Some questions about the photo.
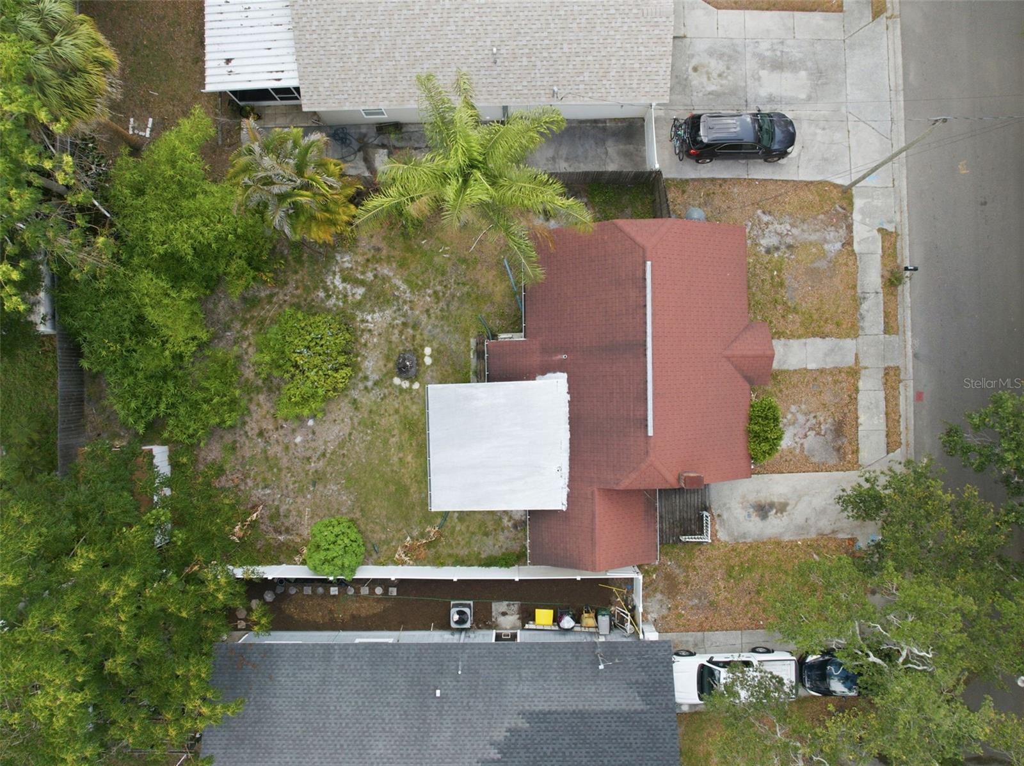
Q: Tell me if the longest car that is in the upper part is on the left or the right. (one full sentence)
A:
The longest car that is in the upper part sits on the right side.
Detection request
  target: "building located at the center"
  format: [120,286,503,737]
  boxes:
[424,216,774,571]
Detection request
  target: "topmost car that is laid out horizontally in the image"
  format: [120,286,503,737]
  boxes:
[672,106,794,162]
